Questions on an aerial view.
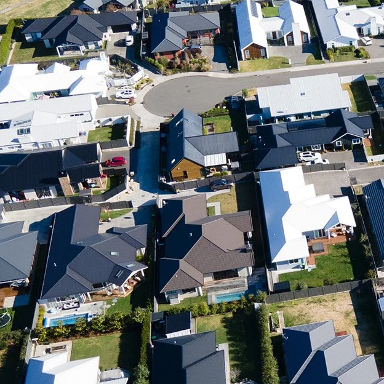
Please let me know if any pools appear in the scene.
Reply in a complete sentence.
Yes, you can see a pool in this photo.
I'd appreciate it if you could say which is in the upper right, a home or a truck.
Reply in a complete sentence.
What appears in the upper right is a home.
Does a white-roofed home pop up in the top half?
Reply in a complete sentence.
Yes, a white-roofed home is visible in the top half.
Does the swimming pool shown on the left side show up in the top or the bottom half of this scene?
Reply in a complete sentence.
The swimming pool shown on the left side sits in the bottom half of the picture.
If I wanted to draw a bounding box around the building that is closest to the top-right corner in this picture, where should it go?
[309,0,384,53]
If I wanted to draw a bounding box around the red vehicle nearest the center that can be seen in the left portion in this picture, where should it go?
[105,155,129,170]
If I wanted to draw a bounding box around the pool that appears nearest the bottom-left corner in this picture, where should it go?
[44,306,93,332]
